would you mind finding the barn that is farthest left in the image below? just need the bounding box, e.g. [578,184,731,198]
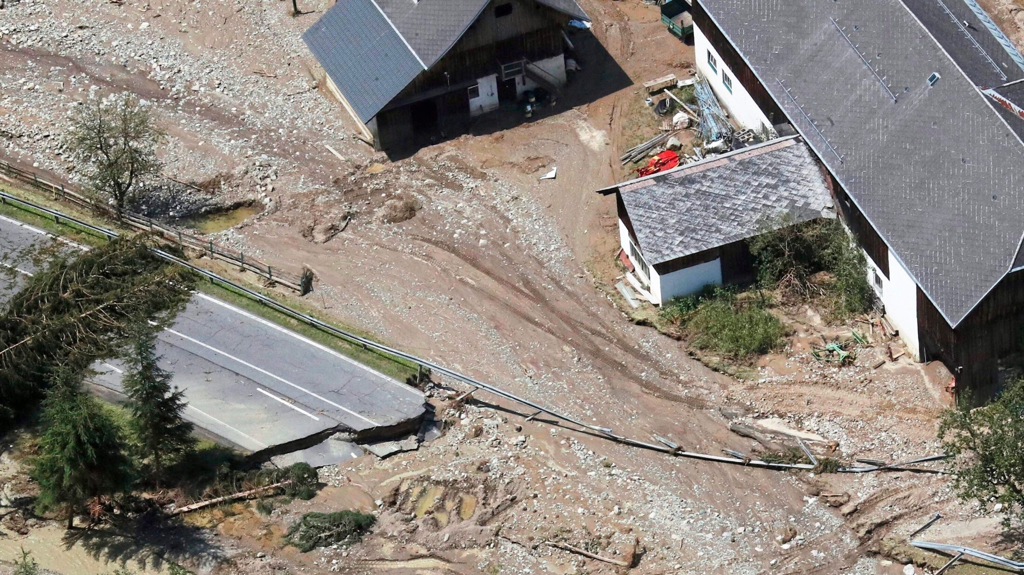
[297,0,591,151]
